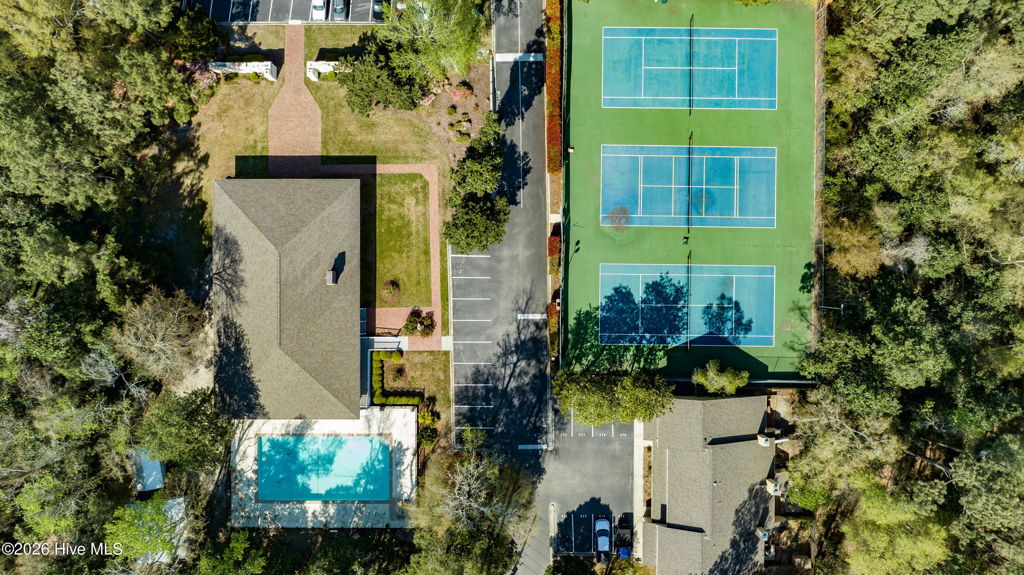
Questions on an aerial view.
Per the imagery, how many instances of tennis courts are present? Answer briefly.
three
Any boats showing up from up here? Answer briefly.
No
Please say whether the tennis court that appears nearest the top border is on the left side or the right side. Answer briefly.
right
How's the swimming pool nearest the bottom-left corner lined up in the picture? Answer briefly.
from side to side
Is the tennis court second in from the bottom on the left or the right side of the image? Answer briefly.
right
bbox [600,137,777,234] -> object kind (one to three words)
tennis court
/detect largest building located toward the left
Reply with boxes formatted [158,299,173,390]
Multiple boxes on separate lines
[212,178,408,419]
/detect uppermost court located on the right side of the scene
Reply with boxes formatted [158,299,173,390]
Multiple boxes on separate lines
[602,17,778,116]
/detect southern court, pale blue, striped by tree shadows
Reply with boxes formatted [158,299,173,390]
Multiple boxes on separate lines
[599,257,775,353]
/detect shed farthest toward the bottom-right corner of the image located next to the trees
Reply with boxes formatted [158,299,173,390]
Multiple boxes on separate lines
[793,554,815,571]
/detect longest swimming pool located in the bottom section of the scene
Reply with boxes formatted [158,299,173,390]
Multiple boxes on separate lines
[255,433,393,504]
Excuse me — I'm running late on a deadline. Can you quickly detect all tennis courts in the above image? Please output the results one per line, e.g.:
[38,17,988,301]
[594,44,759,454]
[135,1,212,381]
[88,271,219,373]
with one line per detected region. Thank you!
[600,137,777,234]
[602,17,778,116]
[599,257,775,353]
